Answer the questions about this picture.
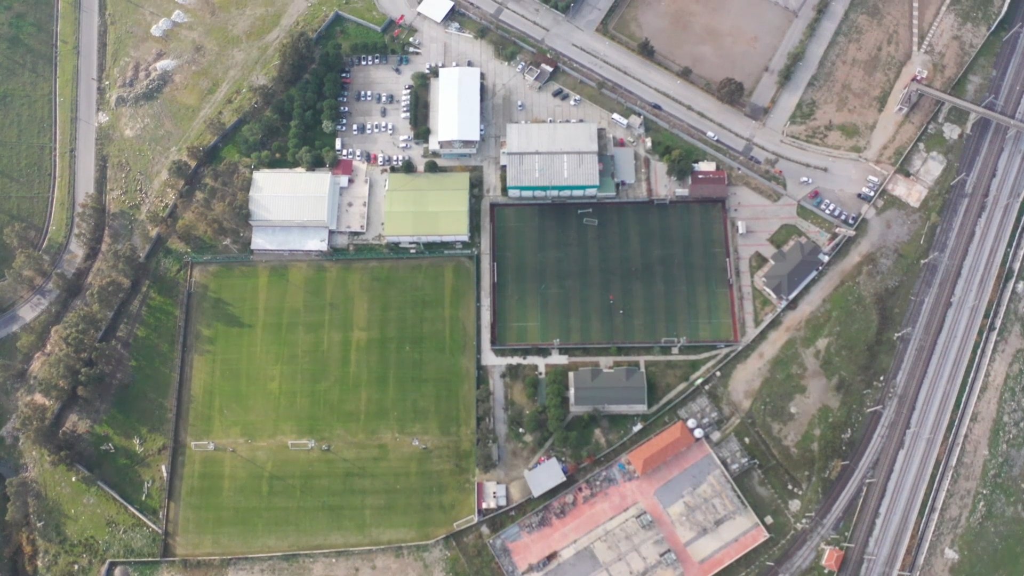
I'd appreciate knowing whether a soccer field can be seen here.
Yes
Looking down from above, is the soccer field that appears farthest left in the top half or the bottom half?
bottom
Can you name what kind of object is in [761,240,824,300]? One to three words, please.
house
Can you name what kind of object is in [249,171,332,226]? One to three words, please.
building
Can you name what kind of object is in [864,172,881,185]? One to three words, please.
vehicle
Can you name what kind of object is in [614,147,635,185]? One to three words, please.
shed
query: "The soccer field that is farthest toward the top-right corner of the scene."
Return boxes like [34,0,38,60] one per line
[491,200,739,348]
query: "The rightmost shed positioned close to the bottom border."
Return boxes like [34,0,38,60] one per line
[820,547,845,573]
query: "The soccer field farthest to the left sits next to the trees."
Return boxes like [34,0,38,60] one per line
[164,256,475,557]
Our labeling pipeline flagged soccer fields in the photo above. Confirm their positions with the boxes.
[164,256,475,557]
[491,200,739,348]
